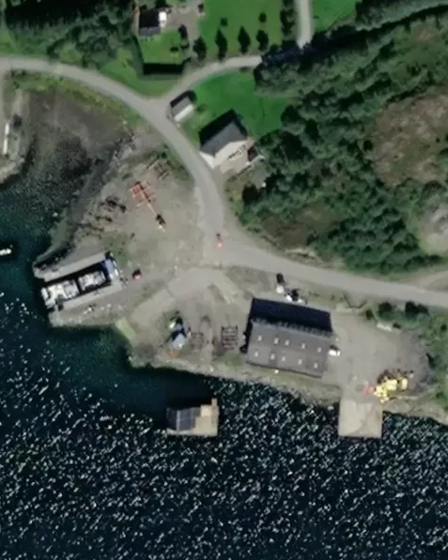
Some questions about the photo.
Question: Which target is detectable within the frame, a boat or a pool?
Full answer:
Of the two, only a boat appears.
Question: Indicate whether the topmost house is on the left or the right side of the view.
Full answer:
The topmost house appears in the left half of the scene.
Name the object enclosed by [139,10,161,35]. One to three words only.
house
